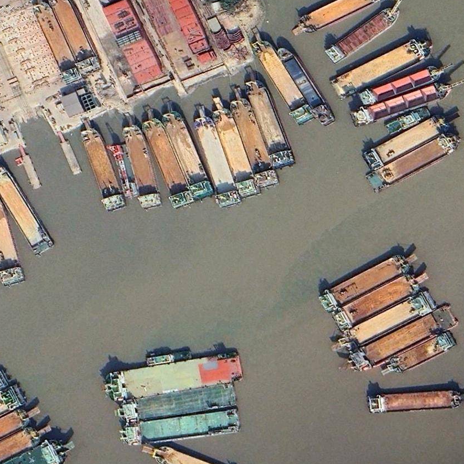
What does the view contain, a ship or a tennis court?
ship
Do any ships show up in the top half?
Yes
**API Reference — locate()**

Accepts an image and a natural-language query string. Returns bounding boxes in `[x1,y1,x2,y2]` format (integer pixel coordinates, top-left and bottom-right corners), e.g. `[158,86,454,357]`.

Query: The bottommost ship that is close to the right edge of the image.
[370,391,464,413]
